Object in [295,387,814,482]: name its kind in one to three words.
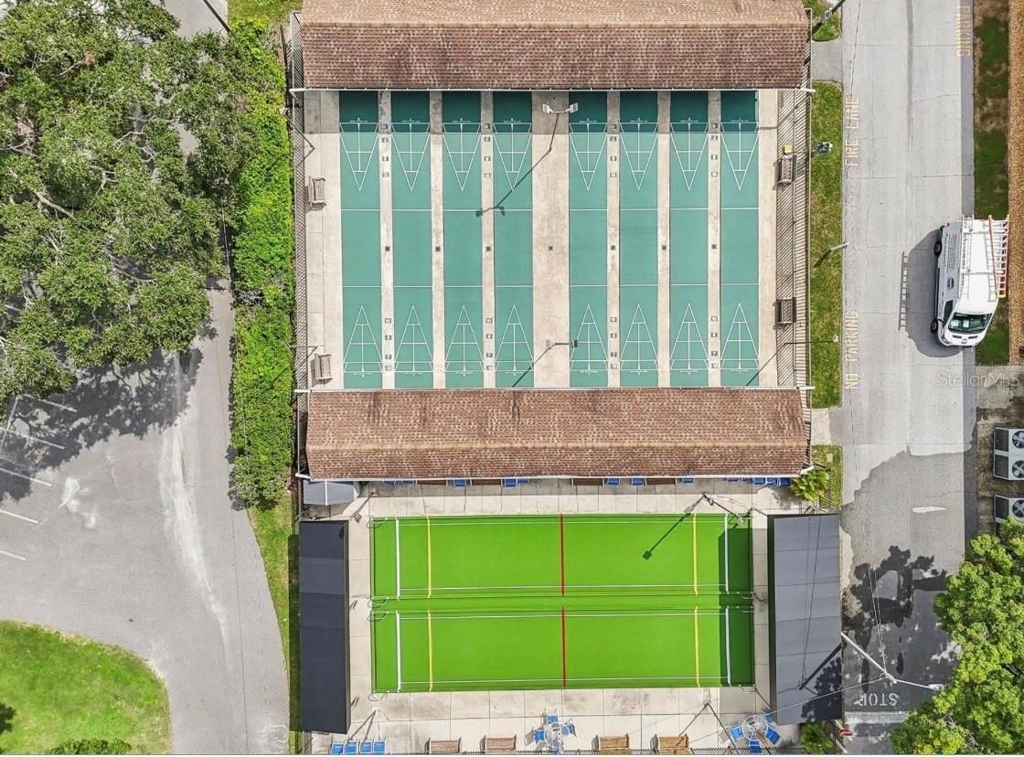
building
